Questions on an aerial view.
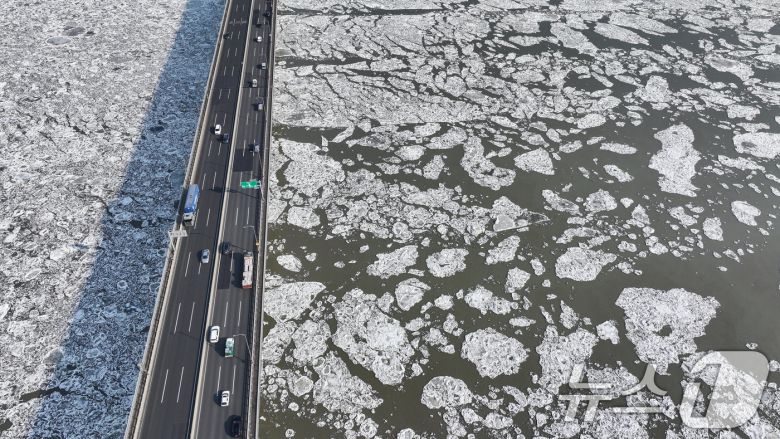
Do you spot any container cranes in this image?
No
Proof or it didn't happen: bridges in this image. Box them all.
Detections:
[122,0,277,439]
